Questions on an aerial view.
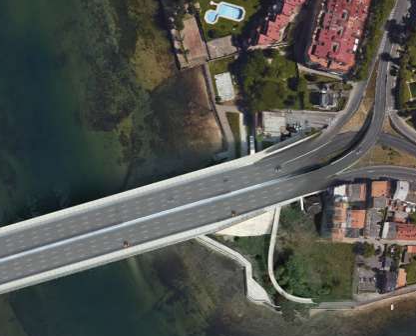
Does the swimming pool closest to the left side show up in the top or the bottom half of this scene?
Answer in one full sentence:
You can find the swimming pool closest to the left side in the top half.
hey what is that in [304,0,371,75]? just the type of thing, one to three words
building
